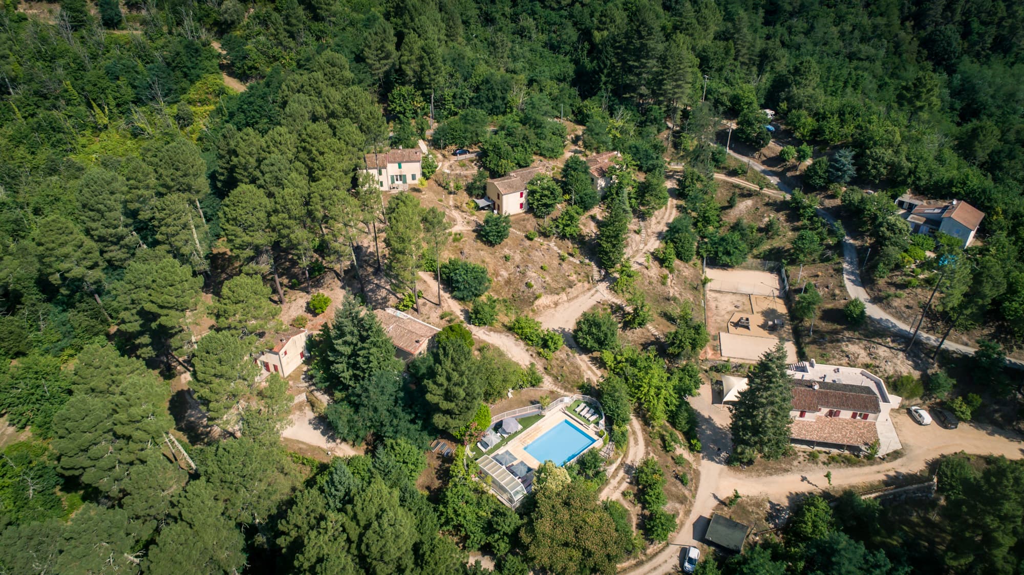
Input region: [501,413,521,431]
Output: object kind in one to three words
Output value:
umbrella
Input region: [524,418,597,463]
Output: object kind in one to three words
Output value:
swimming pool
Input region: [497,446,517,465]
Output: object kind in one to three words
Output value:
umbrella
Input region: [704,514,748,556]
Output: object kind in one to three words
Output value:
shed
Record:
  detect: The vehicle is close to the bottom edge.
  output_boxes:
[684,544,700,574]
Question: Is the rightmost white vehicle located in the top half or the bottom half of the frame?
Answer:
bottom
